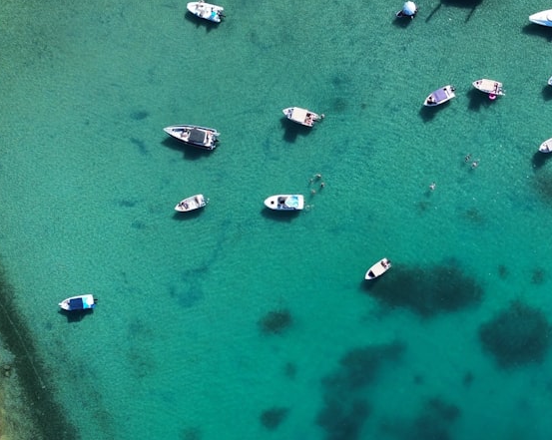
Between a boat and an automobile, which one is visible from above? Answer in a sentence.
Looking from above, you can make out a boat.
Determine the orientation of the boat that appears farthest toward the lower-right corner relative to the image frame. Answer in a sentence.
The boat that appears farthest toward the lower-right corner runs on a diagonal in the image.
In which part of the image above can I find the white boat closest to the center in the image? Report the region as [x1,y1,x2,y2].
[264,194,305,209]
